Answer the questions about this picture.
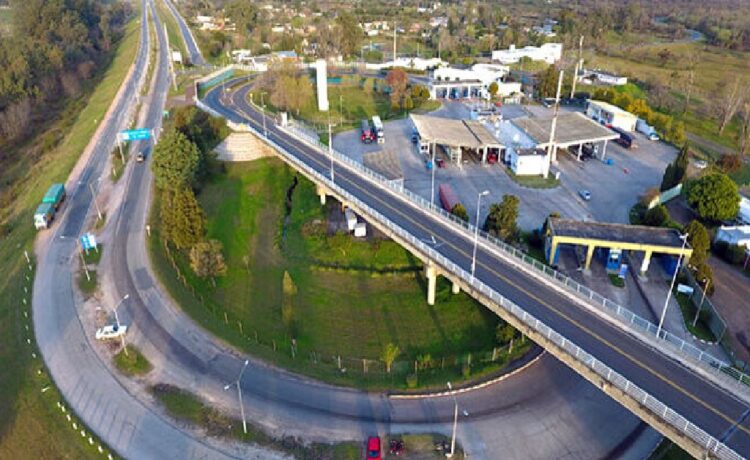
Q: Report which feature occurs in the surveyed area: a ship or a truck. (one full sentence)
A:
I can see a truck in this picture.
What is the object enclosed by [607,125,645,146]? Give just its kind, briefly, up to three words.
truck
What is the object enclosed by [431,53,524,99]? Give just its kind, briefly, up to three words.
building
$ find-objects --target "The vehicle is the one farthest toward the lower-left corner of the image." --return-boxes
[92,324,128,339]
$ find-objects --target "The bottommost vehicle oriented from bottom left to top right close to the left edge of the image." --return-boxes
[25,174,64,229]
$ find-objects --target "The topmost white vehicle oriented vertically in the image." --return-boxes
[373,118,385,140]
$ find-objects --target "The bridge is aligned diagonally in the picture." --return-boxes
[198,116,750,460]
